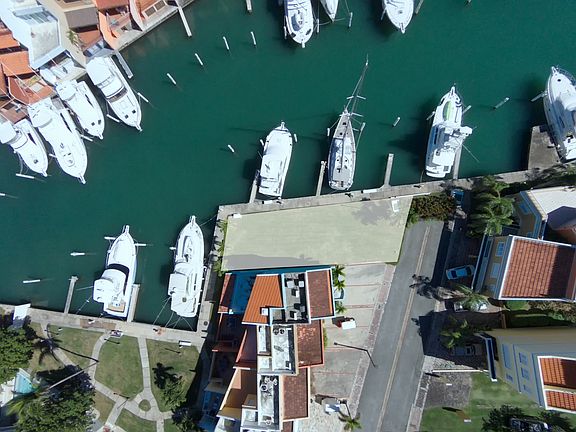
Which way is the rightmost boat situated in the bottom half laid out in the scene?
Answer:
up and down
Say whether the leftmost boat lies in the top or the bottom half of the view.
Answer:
top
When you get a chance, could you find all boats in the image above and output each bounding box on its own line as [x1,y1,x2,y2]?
[284,0,317,48]
[328,58,375,196]
[0,117,51,176]
[320,0,338,22]
[24,93,88,184]
[152,214,217,328]
[76,226,139,322]
[419,87,476,184]
[256,122,294,200]
[50,76,104,137]
[378,0,411,32]
[538,68,576,168]
[84,48,141,128]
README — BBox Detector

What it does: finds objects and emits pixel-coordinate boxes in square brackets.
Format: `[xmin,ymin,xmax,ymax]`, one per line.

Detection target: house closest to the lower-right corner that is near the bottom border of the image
[473,331,576,413]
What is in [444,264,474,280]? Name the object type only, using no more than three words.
car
